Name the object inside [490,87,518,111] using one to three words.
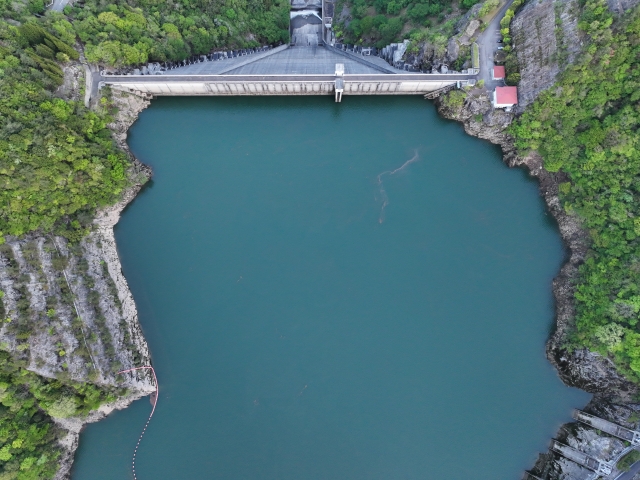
house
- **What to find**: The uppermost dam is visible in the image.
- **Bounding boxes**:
[97,0,481,99]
